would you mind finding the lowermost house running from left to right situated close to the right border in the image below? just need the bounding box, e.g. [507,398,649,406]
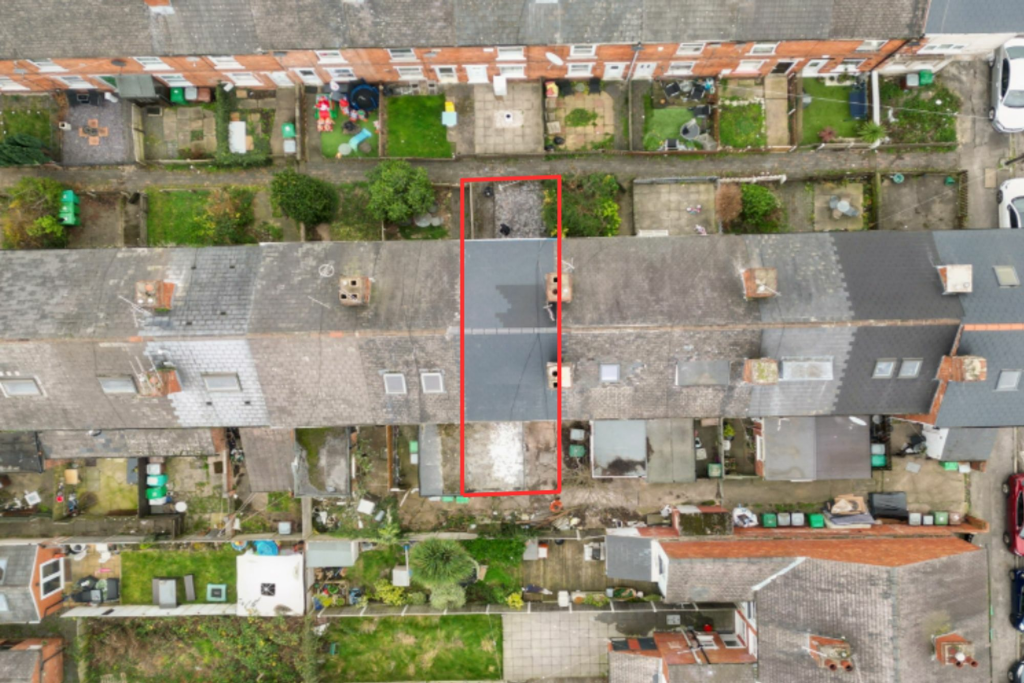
[652,535,989,683]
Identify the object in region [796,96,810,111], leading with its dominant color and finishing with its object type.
gray umbrella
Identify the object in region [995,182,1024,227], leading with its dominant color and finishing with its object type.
white car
